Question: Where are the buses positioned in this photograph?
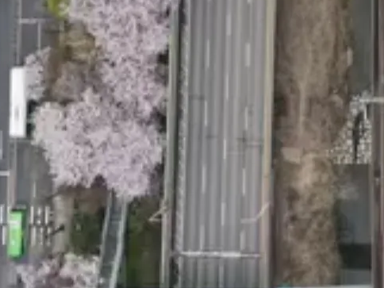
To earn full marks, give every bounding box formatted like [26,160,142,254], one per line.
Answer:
[9,204,32,255]
[9,67,33,137]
